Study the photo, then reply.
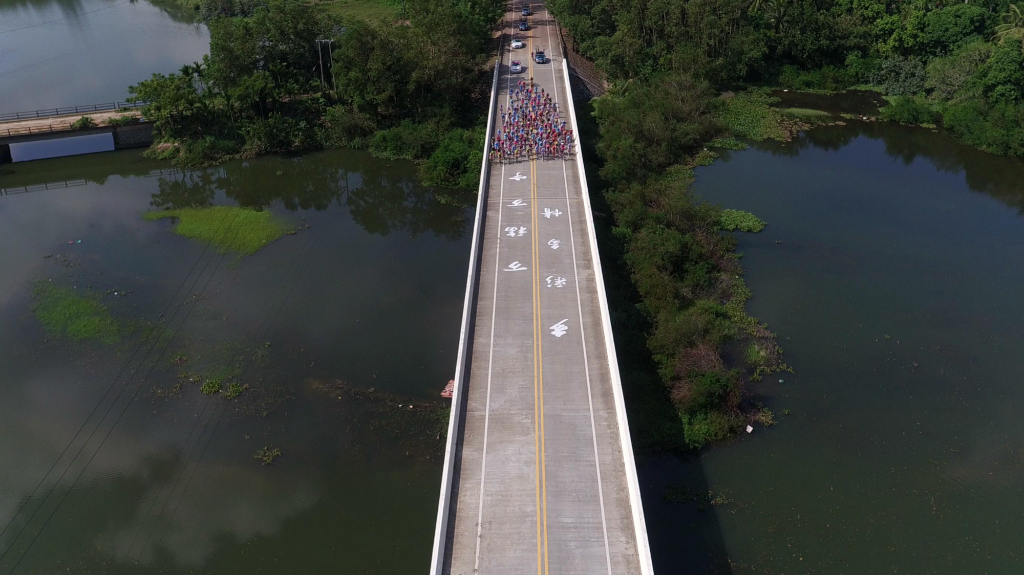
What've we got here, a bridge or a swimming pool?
bridge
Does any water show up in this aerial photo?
Yes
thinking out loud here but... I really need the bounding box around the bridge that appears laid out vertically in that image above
[430,54,657,575]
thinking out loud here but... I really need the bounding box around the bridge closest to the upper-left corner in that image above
[0,105,164,164]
